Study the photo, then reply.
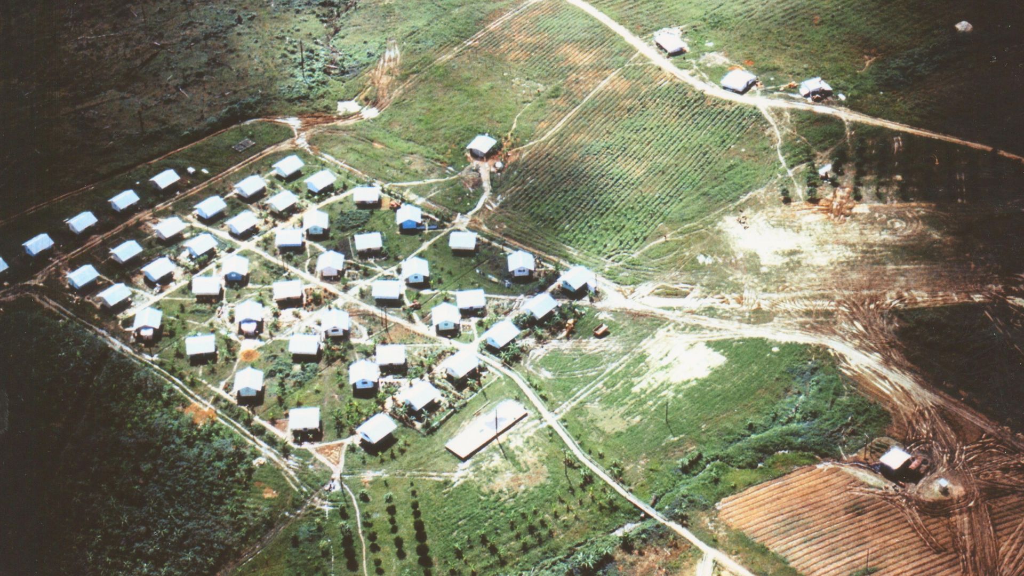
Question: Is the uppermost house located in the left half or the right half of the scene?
right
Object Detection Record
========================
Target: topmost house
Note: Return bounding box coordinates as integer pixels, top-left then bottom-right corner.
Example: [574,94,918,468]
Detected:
[653,30,687,59]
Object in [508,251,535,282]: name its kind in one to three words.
house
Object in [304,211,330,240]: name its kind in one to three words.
house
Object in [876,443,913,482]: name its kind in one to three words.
shed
